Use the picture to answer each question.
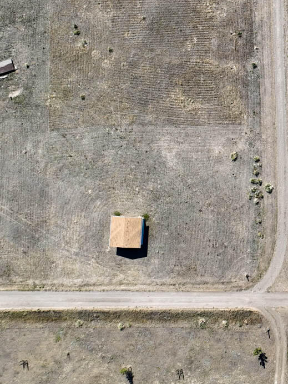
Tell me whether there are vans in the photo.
No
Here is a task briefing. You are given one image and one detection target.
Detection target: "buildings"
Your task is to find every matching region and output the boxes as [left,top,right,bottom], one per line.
[0,55,15,77]
[110,215,148,248]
